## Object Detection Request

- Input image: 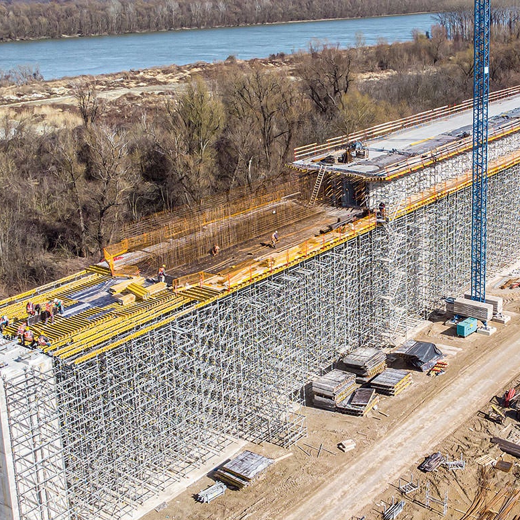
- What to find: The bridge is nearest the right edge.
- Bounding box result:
[303,92,520,209]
